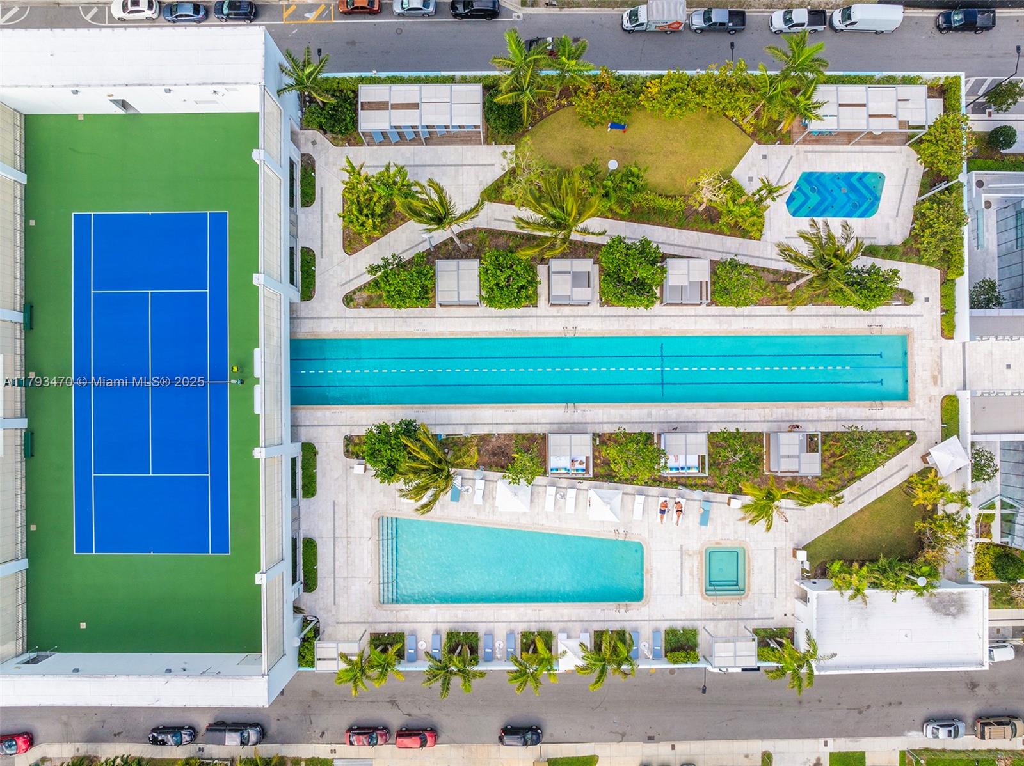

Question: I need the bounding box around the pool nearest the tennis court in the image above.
[290,326,917,413]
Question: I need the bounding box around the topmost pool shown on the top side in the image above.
[785,170,887,219]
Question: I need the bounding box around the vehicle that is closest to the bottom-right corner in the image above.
[973,718,1024,744]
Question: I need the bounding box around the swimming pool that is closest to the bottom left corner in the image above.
[370,508,652,612]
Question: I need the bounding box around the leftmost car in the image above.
[0,731,34,756]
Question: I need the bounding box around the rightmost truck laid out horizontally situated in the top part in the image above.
[934,5,998,33]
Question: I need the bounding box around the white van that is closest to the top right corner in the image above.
[830,0,909,32]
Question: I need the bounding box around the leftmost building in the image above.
[0,25,300,707]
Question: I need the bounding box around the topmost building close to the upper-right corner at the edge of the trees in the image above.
[793,85,927,145]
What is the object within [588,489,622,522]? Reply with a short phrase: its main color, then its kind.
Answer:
white umbrella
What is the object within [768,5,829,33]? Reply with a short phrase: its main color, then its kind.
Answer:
white truck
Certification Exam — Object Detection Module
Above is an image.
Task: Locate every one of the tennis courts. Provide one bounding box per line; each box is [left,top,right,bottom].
[25,113,276,653]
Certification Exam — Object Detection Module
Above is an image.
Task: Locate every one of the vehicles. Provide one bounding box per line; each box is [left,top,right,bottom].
[499,727,542,752]
[345,728,391,752]
[990,642,1017,663]
[213,0,258,21]
[0,731,34,756]
[338,0,382,15]
[622,0,692,32]
[148,727,198,751]
[451,0,500,20]
[111,0,161,19]
[688,5,747,33]
[934,5,998,33]
[163,0,208,23]
[395,729,438,754]
[392,0,437,17]
[973,718,1024,744]
[830,0,909,32]
[921,720,965,745]
[768,5,829,33]
[204,723,265,750]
